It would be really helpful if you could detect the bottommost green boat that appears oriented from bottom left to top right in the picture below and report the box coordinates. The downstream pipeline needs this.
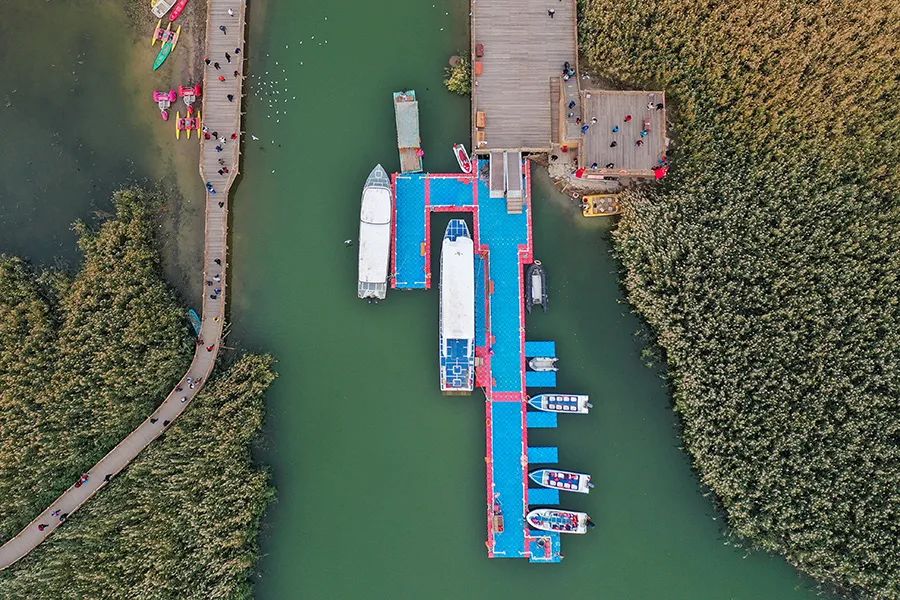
[153,43,171,70]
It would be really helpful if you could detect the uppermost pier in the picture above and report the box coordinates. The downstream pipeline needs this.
[472,0,582,152]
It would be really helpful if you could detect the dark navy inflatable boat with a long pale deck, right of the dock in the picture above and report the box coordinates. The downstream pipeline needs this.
[526,265,548,310]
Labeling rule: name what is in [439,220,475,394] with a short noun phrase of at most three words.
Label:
boat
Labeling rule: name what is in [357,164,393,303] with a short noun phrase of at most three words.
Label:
boat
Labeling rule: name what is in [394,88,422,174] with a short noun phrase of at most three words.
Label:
vessel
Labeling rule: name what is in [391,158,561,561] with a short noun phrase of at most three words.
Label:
pier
